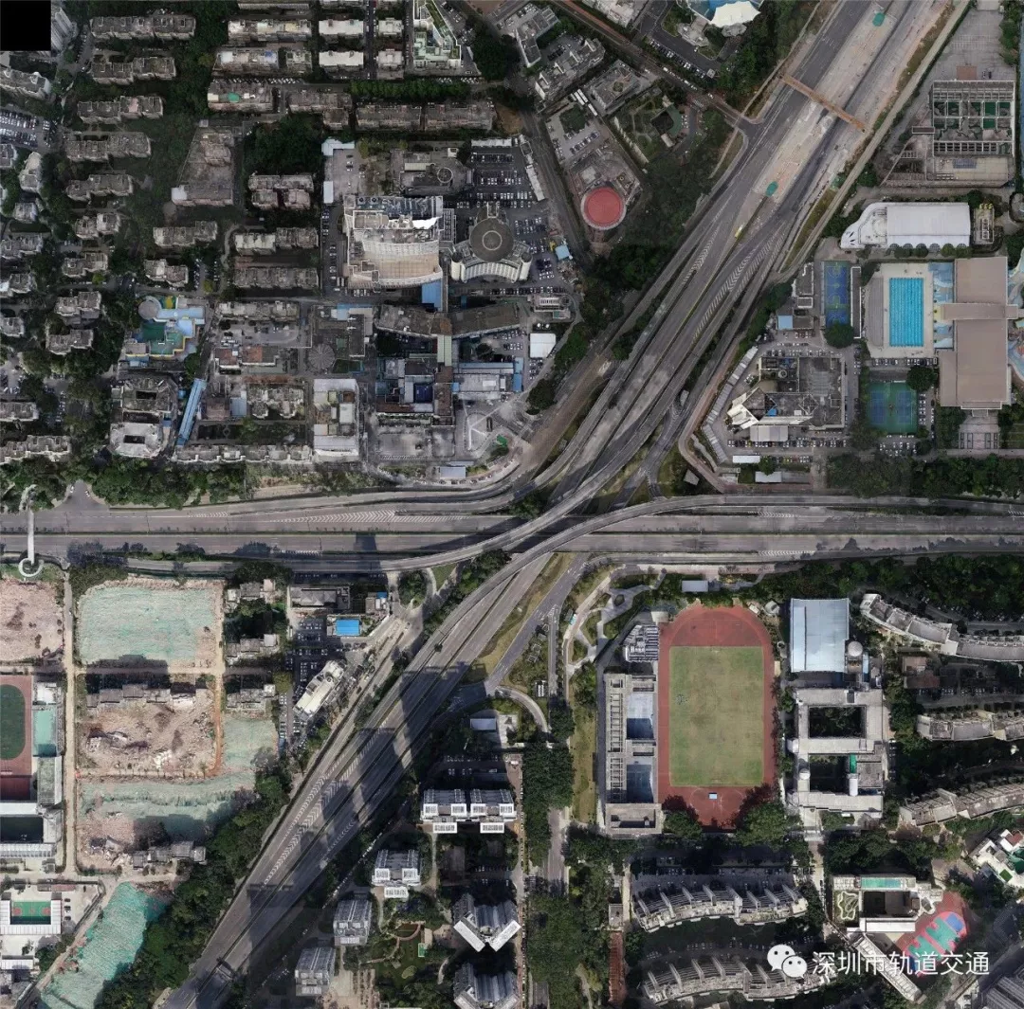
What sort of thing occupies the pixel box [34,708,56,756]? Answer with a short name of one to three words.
sports court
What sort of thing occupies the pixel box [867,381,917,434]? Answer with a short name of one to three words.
tennis court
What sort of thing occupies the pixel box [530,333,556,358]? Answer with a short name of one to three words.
shed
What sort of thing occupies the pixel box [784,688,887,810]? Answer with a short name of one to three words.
building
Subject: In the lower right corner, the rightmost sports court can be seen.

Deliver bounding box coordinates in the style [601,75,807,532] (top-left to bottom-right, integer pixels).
[898,892,968,977]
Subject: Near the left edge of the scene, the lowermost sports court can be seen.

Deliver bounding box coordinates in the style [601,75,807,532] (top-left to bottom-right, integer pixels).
[15,901,50,921]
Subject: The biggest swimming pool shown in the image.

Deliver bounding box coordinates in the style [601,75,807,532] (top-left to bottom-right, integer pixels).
[864,263,934,357]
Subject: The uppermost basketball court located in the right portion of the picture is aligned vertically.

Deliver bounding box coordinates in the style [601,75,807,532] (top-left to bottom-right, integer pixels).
[821,262,850,328]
